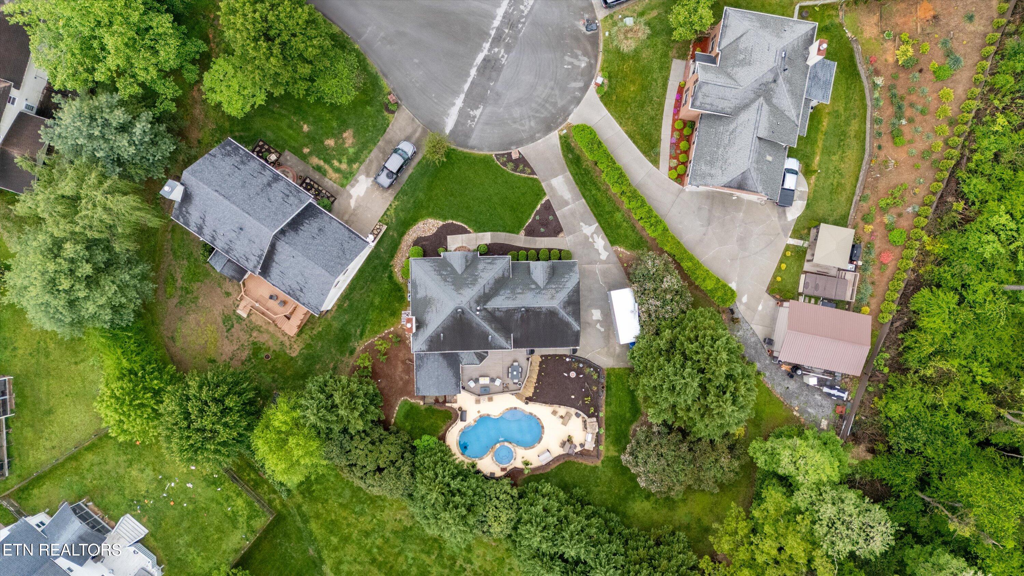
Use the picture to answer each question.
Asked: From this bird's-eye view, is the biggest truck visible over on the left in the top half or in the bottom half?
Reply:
top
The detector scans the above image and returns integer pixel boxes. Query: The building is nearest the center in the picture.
[405,251,581,396]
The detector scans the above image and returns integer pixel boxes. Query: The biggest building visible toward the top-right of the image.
[681,6,837,202]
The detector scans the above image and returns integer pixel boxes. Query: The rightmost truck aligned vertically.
[773,153,803,213]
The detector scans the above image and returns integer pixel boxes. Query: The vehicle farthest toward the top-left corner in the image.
[372,137,416,194]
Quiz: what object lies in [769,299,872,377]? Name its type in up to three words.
shed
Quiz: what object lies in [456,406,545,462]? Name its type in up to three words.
swimming pool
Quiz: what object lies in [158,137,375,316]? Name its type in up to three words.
house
